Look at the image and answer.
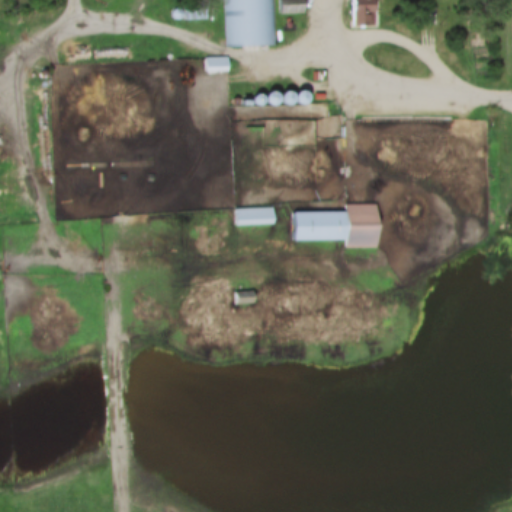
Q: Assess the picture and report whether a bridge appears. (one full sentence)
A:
No, the photo shows no bridge.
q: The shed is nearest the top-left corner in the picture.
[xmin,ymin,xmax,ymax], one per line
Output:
[203,57,230,74]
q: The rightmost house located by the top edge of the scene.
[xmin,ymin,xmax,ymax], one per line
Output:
[350,0,381,30]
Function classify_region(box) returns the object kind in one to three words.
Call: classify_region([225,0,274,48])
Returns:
barn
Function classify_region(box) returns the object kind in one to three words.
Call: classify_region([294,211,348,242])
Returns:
shed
